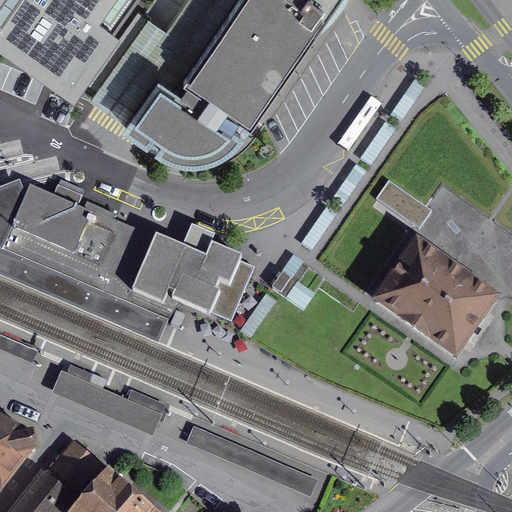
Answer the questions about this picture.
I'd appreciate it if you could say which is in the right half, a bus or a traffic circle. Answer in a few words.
bus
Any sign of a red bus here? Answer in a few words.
No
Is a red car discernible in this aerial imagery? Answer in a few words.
No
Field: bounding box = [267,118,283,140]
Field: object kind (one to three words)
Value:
car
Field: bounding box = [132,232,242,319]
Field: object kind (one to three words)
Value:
building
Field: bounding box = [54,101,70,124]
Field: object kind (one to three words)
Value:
car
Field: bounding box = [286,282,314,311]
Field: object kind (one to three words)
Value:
house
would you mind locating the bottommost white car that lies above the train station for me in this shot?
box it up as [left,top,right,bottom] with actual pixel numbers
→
[98,181,122,198]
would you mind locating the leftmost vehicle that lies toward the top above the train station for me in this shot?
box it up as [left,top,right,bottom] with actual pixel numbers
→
[15,74,30,98]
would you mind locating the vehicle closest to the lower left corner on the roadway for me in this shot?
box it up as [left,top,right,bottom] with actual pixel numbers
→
[10,402,40,422]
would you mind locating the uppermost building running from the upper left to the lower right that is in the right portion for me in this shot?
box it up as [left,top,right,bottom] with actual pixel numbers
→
[376,181,432,230]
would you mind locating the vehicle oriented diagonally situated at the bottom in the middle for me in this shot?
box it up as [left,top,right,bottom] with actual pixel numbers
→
[198,486,221,506]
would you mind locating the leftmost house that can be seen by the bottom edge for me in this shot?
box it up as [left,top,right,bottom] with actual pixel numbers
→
[0,408,38,492]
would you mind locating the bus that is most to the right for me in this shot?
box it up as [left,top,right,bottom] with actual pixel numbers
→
[338,94,384,152]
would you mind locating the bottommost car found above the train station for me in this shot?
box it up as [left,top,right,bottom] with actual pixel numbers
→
[200,212,226,230]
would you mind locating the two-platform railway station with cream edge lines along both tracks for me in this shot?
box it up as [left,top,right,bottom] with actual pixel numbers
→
[0,276,438,489]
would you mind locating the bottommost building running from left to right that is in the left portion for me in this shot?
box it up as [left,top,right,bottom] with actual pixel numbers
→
[66,465,164,512]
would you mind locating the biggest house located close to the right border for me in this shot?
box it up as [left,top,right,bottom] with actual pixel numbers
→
[372,234,501,358]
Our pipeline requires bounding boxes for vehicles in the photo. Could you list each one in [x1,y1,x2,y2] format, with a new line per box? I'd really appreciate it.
[15,74,30,98]
[338,94,384,152]
[98,181,122,198]
[10,402,40,422]
[200,212,226,230]
[267,118,283,140]
[44,96,60,119]
[54,101,70,124]
[198,486,221,506]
